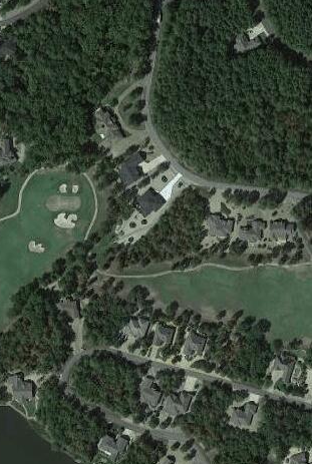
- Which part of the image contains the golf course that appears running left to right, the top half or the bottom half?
bottom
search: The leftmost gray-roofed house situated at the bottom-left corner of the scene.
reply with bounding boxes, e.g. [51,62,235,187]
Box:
[10,376,33,399]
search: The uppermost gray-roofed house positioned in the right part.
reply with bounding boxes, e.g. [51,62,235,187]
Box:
[232,34,259,54]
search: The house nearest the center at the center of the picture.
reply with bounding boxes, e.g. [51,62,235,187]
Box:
[137,186,168,218]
